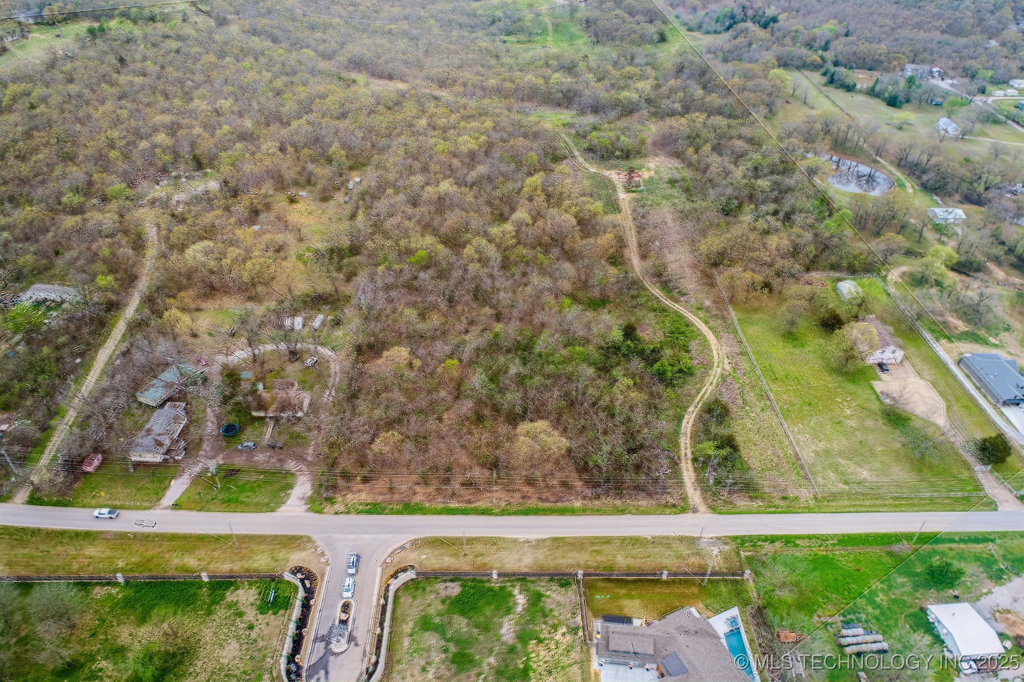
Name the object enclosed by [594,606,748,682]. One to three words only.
building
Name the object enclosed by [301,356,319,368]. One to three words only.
vehicle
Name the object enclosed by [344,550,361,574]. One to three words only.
car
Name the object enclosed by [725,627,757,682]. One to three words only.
swimming pool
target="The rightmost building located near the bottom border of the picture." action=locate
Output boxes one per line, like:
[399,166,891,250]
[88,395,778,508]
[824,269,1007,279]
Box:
[924,603,1008,682]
